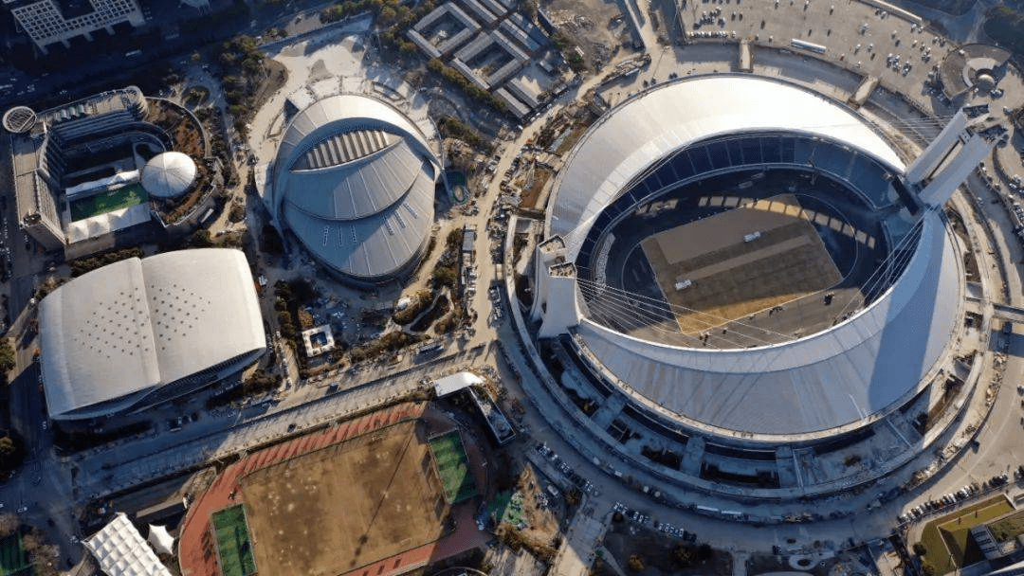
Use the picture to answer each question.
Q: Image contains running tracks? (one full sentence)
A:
Yes, you can see a running track in this photo.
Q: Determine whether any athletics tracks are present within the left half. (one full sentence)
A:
Yes, I can see an athletics track within the left half.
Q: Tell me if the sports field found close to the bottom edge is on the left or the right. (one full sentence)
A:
The sports field found close to the bottom edge sits on the left side.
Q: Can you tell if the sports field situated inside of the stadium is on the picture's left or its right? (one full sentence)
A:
The sports field situated inside of the stadium appears in the right half of the scene.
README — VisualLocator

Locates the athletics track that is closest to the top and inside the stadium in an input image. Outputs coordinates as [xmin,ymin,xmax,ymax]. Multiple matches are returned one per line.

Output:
[605,182,883,344]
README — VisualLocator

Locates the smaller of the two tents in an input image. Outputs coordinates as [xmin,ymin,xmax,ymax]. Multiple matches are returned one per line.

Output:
[149,525,176,554]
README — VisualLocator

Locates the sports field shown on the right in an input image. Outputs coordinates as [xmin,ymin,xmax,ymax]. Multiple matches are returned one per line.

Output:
[641,194,842,332]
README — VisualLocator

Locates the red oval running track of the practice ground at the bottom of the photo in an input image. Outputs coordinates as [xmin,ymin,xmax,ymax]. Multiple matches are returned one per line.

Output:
[179,404,500,576]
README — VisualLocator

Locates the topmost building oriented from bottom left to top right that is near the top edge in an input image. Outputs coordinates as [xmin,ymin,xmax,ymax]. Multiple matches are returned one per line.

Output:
[414,3,453,39]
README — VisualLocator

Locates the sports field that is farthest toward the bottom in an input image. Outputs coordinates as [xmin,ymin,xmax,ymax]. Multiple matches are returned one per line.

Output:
[240,421,447,576]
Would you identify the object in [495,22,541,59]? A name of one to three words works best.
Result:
house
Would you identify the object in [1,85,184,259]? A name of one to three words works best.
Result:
building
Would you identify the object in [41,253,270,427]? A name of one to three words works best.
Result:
building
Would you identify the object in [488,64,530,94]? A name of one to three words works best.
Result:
house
